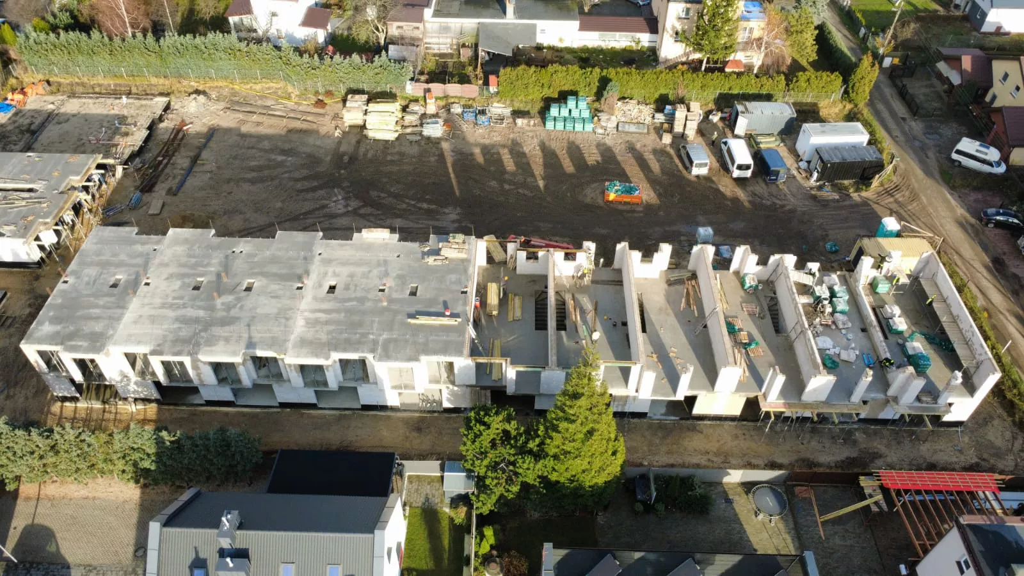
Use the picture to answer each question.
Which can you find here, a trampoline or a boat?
trampoline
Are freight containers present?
Yes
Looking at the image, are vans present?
Yes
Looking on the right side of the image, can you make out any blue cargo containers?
No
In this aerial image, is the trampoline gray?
Yes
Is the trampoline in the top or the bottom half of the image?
bottom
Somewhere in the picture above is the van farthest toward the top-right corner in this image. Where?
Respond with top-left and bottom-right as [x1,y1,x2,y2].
[952,135,1012,173]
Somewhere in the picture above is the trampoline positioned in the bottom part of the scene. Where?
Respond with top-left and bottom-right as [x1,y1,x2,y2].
[748,483,792,535]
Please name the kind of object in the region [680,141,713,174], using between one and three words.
van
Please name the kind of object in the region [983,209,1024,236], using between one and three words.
car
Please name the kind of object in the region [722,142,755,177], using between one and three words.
van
